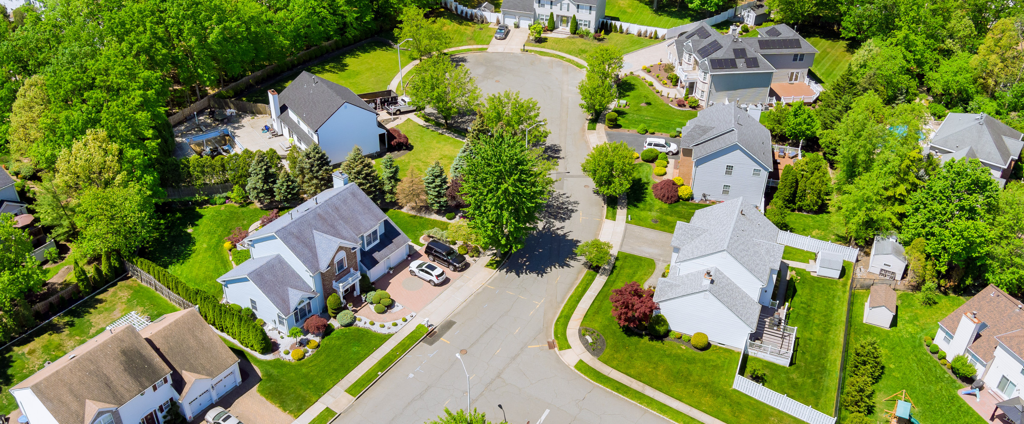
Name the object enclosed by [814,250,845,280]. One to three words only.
shed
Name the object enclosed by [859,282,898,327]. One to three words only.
shed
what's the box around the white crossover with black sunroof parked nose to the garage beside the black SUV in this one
[408,258,450,284]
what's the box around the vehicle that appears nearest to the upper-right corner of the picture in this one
[644,133,680,153]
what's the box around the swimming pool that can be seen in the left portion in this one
[188,127,247,162]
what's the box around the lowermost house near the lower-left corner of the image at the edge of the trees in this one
[6,310,241,424]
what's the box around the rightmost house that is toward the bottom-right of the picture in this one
[934,283,1024,397]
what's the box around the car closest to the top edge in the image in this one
[493,24,511,37]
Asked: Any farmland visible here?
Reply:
No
